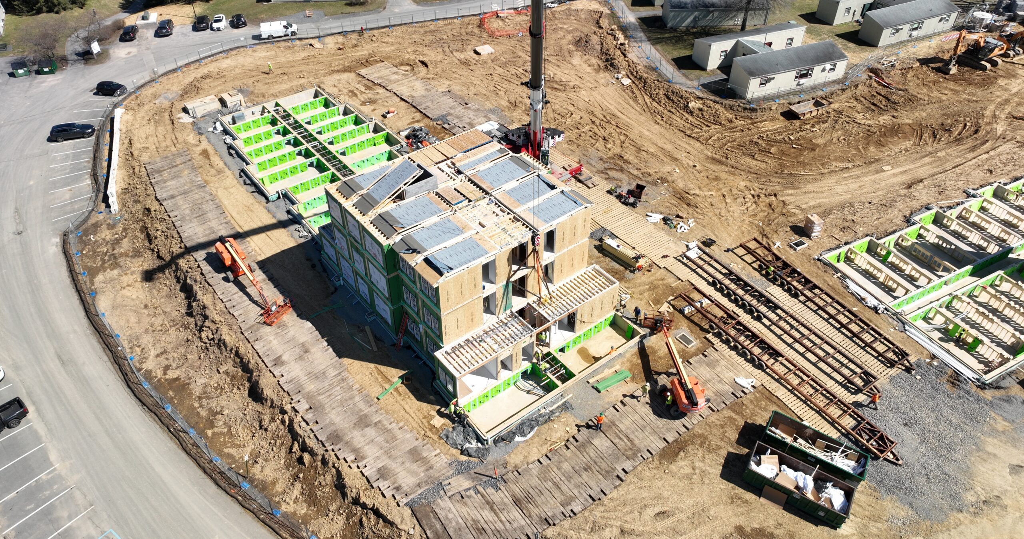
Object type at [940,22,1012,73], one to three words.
work vehicle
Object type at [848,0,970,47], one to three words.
house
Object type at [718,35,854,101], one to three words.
house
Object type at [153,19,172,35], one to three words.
car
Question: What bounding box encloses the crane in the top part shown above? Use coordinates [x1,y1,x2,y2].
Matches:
[466,0,595,233]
